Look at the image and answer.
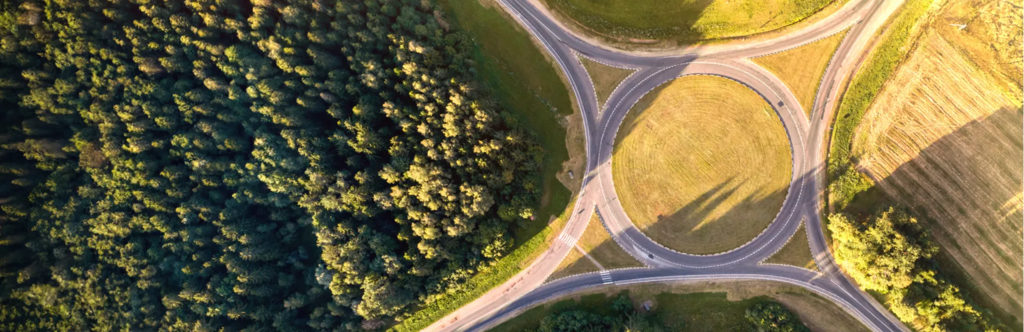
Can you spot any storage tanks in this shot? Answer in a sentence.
No, the frame has no storage tank in it.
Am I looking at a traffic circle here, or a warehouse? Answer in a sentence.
This aerial view contains a traffic circle.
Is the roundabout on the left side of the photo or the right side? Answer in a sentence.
You can find the roundabout on the right side of the picture.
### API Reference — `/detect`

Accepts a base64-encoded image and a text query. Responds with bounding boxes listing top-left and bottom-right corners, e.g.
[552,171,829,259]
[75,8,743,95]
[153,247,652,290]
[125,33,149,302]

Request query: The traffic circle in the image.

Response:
[588,51,815,278]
